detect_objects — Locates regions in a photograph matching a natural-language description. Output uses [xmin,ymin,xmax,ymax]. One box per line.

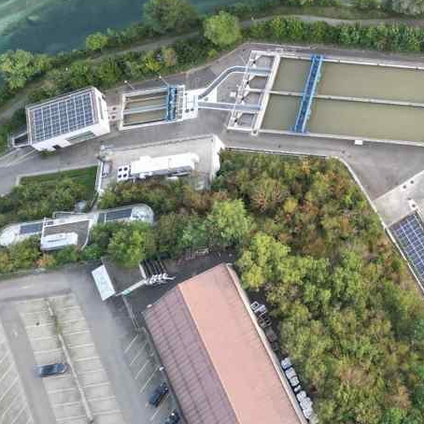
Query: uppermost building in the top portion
[24,85,110,151]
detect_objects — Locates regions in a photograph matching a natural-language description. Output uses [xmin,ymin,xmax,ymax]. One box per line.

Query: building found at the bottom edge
[142,262,323,424]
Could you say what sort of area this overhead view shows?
industrial area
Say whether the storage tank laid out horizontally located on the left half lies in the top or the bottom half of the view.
top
